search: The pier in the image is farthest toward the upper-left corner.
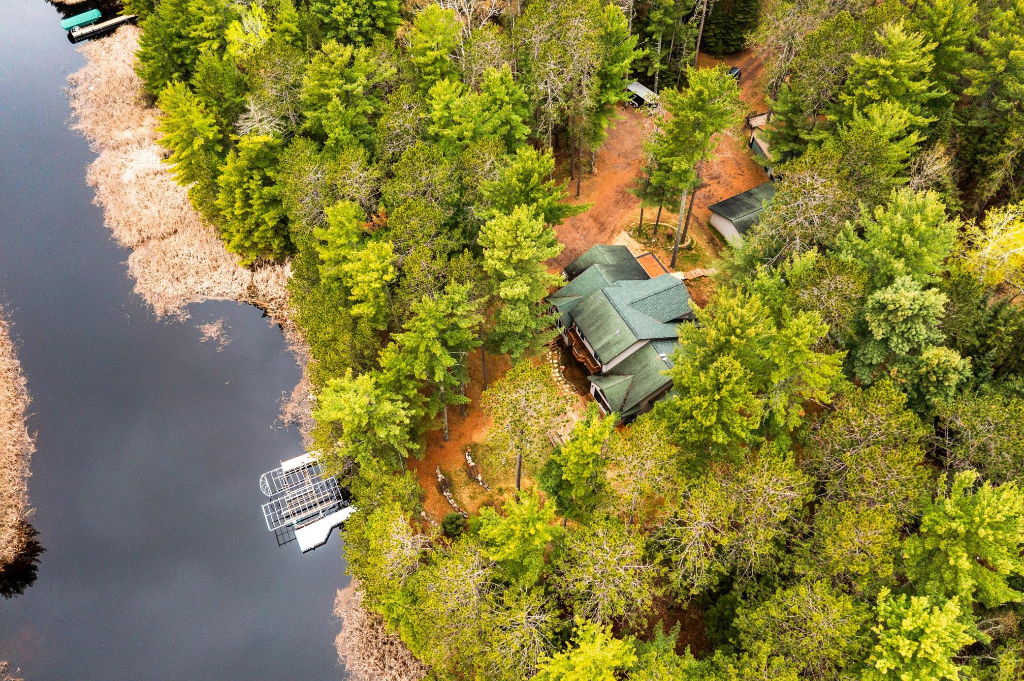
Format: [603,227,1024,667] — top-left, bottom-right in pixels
[72,13,139,40]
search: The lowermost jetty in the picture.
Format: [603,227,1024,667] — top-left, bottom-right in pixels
[295,507,366,552]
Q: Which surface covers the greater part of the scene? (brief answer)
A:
trees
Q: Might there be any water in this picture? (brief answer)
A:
Yes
